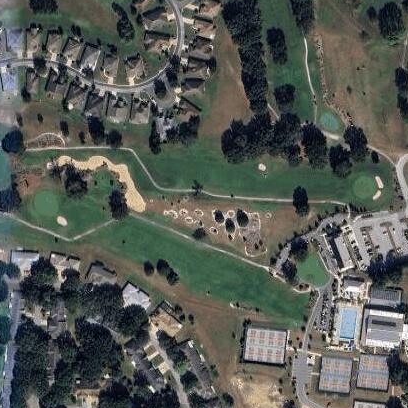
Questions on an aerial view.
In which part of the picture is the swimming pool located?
bottom right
